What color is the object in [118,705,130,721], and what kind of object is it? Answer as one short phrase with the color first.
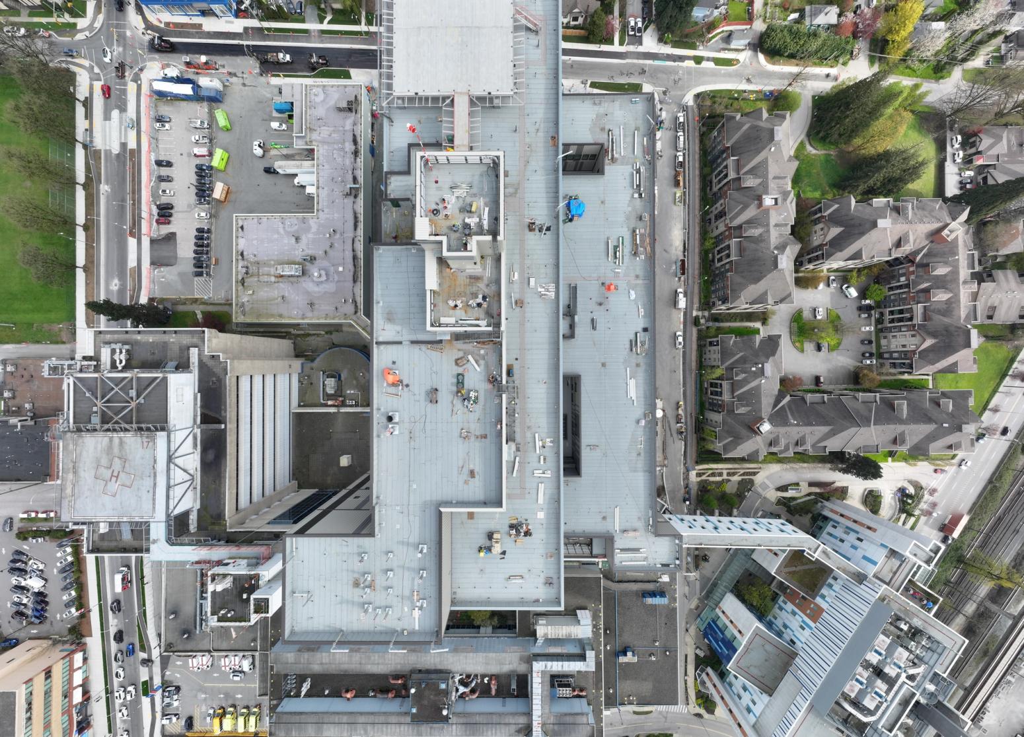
white vehicle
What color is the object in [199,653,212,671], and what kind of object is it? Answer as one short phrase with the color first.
white vehicle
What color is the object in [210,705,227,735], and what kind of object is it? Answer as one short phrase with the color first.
yellow vehicle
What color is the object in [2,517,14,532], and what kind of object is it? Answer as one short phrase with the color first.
gray vehicle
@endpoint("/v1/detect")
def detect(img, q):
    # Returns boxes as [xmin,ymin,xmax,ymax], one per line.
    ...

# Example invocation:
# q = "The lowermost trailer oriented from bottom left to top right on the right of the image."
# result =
[935,503,972,546]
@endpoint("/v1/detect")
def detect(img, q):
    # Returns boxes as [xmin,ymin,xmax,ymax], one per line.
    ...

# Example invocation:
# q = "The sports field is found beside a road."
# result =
[0,68,75,326]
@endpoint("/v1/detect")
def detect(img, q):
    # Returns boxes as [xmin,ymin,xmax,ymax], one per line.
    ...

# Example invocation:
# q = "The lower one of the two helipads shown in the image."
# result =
[52,424,274,562]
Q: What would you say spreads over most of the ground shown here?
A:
buildings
